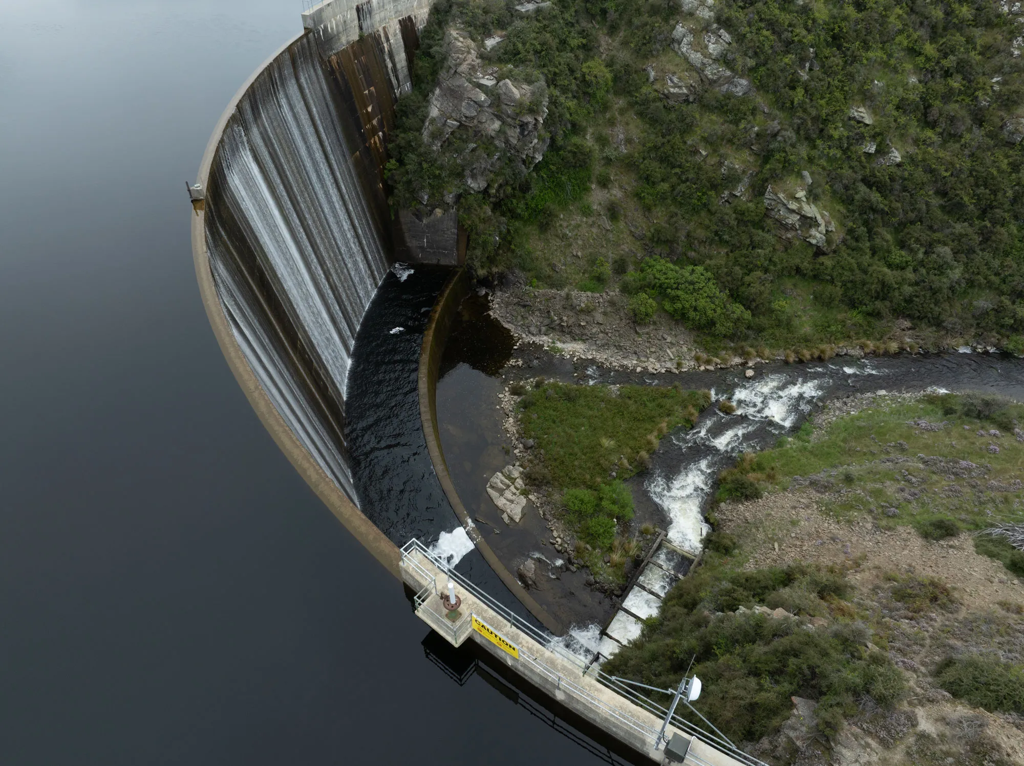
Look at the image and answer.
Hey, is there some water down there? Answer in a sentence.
Yes, some water is visible.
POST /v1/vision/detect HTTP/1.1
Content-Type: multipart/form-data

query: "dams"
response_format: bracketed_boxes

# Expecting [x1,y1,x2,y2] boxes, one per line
[192,0,758,766]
